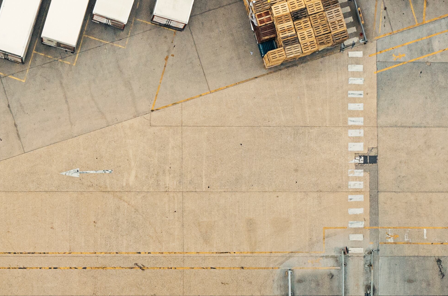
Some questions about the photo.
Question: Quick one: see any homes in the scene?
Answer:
No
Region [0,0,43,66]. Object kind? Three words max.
trailer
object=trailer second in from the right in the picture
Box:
[91,0,134,34]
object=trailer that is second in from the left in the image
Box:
[40,0,90,54]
